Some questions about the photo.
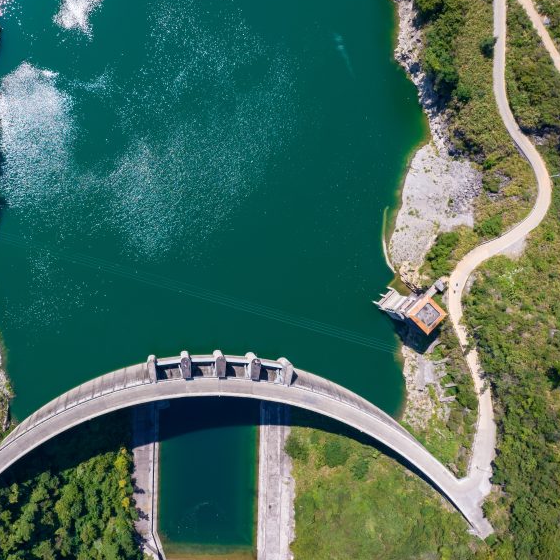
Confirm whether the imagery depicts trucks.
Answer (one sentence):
No, there appears to be no truck in this shot.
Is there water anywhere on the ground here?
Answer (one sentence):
Yes, there's water in this view.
